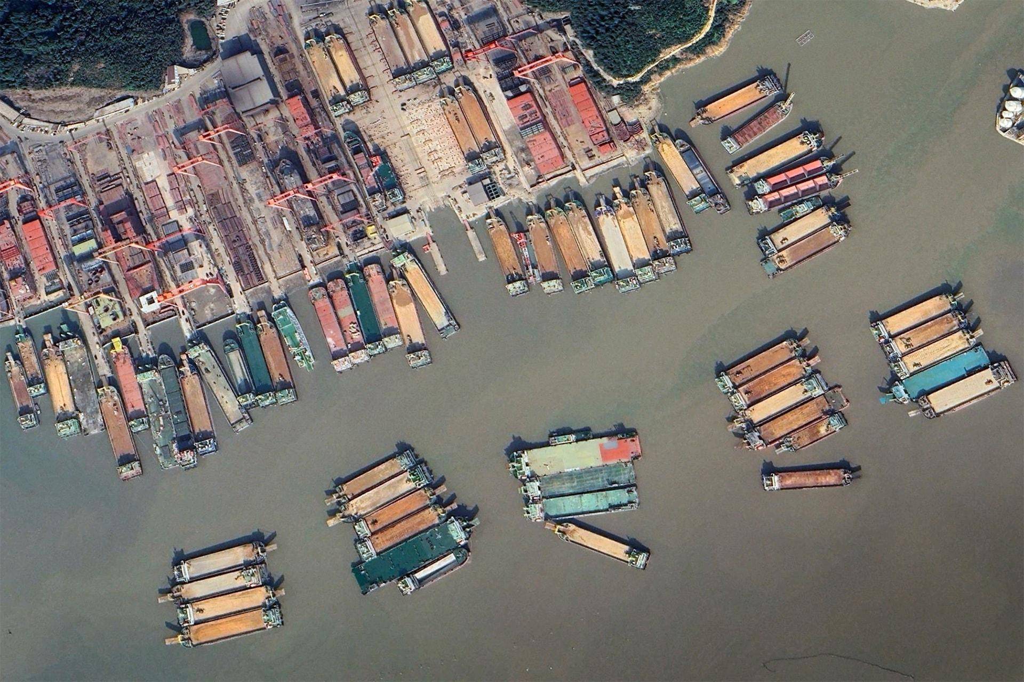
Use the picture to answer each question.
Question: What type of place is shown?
port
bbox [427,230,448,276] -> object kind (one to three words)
pier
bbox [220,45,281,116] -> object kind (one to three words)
shed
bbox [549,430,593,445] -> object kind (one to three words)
boat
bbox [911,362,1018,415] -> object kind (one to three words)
ship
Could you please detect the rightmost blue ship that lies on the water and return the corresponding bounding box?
[883,345,993,402]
